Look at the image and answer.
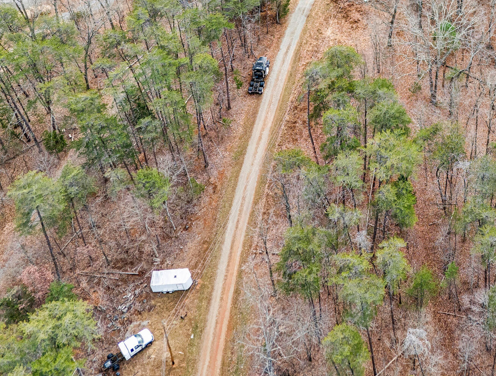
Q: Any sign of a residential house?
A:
No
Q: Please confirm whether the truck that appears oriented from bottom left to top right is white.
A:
Yes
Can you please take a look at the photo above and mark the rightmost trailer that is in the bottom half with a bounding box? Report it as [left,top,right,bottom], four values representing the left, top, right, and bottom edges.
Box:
[150,267,196,293]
